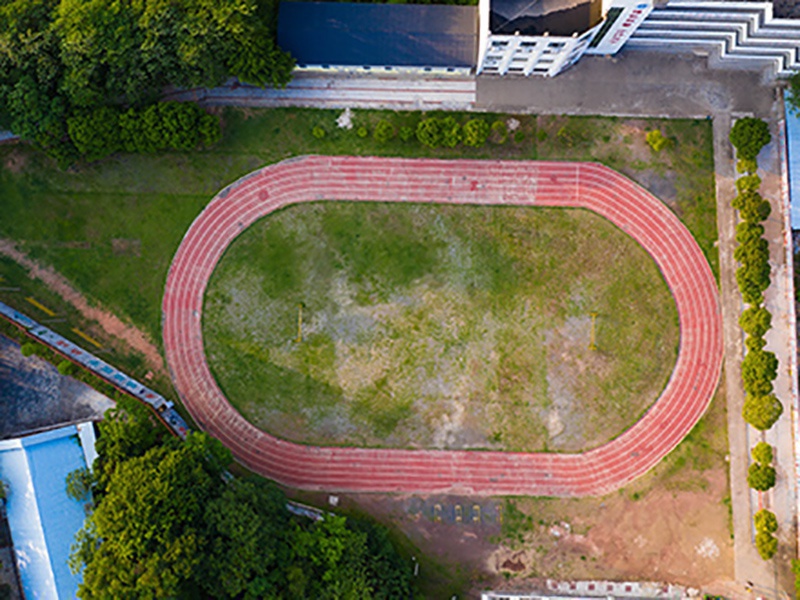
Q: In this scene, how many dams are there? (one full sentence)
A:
No dams are visible.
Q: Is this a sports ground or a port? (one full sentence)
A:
The picture captures a sports ground.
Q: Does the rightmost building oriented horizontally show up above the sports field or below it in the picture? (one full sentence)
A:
In the image, the rightmost building oriented horizontally appears above the sports field.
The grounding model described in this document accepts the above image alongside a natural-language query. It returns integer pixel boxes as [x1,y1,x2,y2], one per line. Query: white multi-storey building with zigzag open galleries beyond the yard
[620,0,800,83]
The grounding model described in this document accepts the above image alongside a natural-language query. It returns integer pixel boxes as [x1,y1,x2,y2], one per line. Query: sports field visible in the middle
[202,202,680,451]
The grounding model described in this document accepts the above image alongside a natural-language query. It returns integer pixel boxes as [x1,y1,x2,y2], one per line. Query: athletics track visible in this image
[162,155,724,498]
